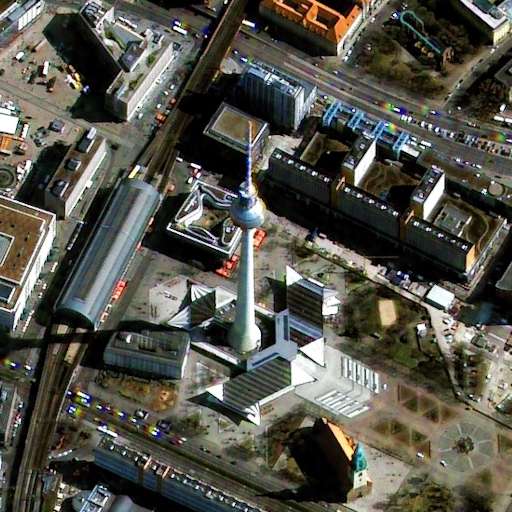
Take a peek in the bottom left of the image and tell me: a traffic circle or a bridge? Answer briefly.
bridge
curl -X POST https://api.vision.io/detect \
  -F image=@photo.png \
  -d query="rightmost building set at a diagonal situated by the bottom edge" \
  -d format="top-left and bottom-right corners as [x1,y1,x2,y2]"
[312,418,376,507]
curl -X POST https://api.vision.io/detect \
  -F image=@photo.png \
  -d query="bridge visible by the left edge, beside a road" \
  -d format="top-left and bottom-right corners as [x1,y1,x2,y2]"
[11,318,94,512]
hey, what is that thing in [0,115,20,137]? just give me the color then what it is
white tent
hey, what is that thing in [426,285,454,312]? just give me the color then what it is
white tent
